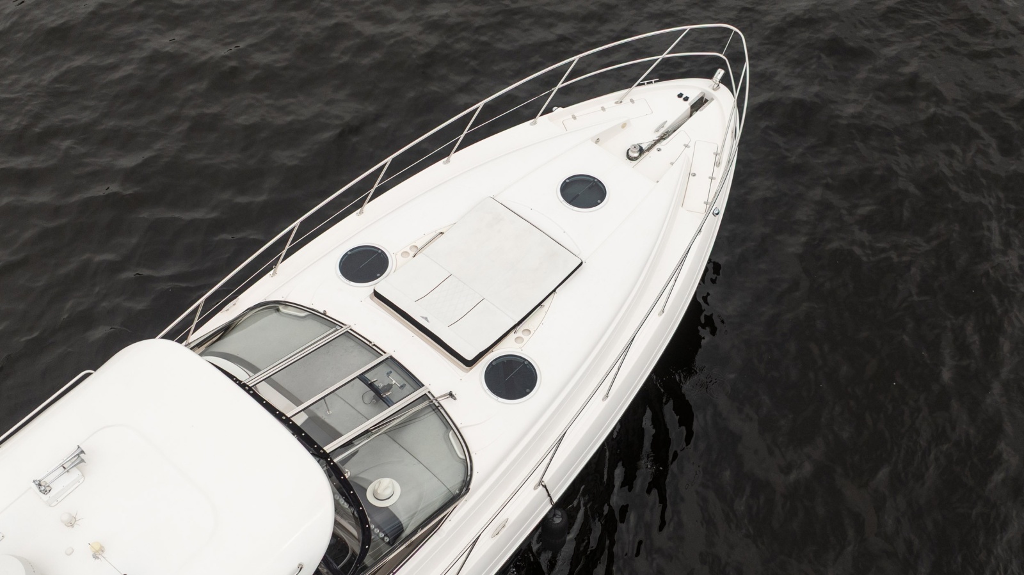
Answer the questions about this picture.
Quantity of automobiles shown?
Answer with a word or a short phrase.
none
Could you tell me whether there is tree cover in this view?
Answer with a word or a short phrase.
No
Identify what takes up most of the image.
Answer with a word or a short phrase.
water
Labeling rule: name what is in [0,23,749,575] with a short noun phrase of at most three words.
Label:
boat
